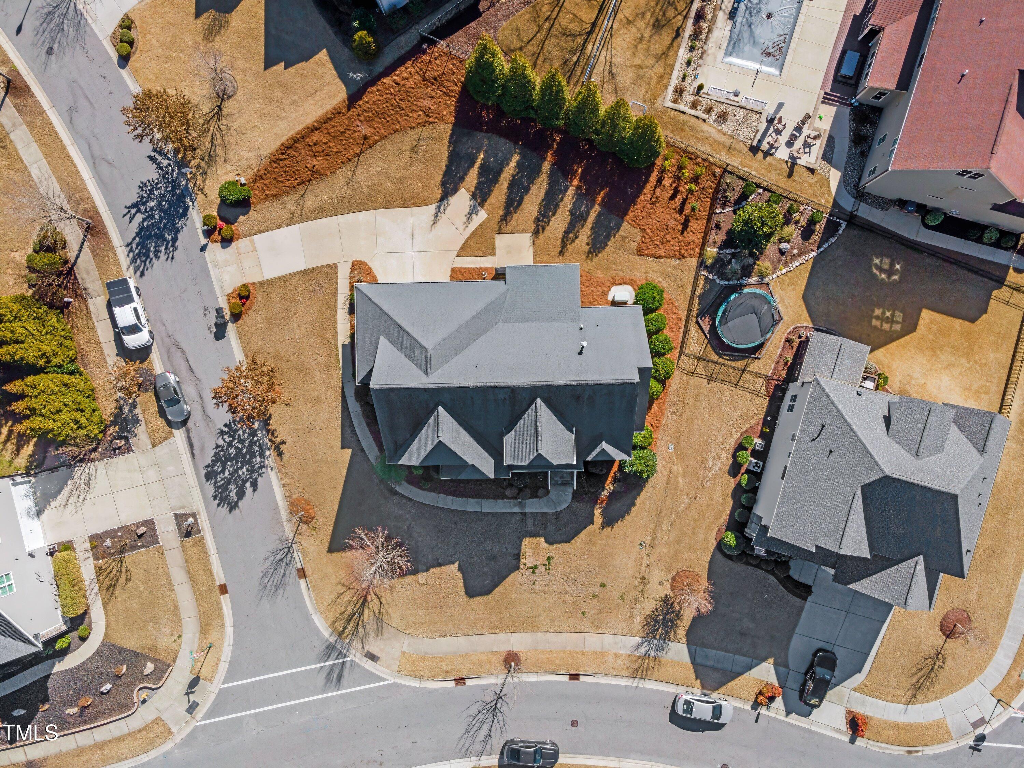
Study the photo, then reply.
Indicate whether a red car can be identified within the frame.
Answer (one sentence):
No, the photo shows no red car.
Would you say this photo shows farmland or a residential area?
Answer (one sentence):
The area seen from above is a residential area.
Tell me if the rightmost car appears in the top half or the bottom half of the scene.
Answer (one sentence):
The rightmost car sits in the bottom half of the picture.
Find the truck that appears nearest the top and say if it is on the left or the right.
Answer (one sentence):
You can find the truck that appears nearest the top on the left side of the picture.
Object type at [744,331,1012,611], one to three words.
house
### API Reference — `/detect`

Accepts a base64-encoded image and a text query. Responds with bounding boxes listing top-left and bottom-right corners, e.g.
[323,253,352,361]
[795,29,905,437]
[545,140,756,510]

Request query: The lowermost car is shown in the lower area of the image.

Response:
[503,735,562,768]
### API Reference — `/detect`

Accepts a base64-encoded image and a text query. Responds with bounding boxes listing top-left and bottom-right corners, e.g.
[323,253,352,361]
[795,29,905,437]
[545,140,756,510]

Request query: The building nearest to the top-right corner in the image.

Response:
[853,0,1024,220]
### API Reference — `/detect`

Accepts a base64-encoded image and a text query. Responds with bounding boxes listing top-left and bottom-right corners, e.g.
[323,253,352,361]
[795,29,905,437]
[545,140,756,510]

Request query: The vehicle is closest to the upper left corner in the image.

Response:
[107,279,155,355]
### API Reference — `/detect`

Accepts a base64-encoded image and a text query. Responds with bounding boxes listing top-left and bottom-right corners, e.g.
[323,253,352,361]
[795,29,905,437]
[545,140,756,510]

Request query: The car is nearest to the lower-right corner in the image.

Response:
[797,645,835,709]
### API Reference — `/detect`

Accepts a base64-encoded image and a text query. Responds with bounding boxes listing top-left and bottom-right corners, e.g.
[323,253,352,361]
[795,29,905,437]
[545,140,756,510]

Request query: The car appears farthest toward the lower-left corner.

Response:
[152,369,191,425]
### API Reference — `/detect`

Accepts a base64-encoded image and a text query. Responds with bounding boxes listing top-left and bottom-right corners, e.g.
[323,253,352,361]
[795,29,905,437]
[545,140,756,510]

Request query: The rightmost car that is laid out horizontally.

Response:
[673,690,734,725]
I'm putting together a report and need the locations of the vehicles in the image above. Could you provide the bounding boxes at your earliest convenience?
[152,369,191,425]
[797,645,835,709]
[673,690,734,725]
[107,279,155,355]
[503,735,562,768]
